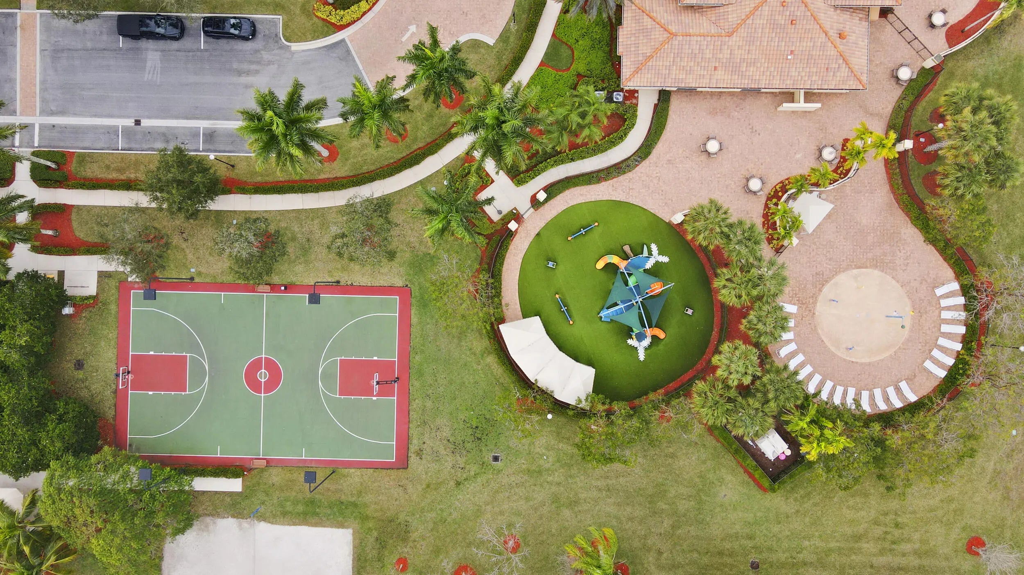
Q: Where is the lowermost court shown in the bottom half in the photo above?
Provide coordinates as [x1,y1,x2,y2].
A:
[163,506,352,575]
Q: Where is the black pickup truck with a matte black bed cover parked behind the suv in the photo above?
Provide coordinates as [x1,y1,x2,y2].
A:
[118,10,185,39]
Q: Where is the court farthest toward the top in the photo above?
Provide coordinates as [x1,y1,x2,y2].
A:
[115,281,411,469]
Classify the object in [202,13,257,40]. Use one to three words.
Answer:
car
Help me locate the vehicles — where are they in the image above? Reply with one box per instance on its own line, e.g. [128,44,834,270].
[118,10,185,39]
[202,13,257,40]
